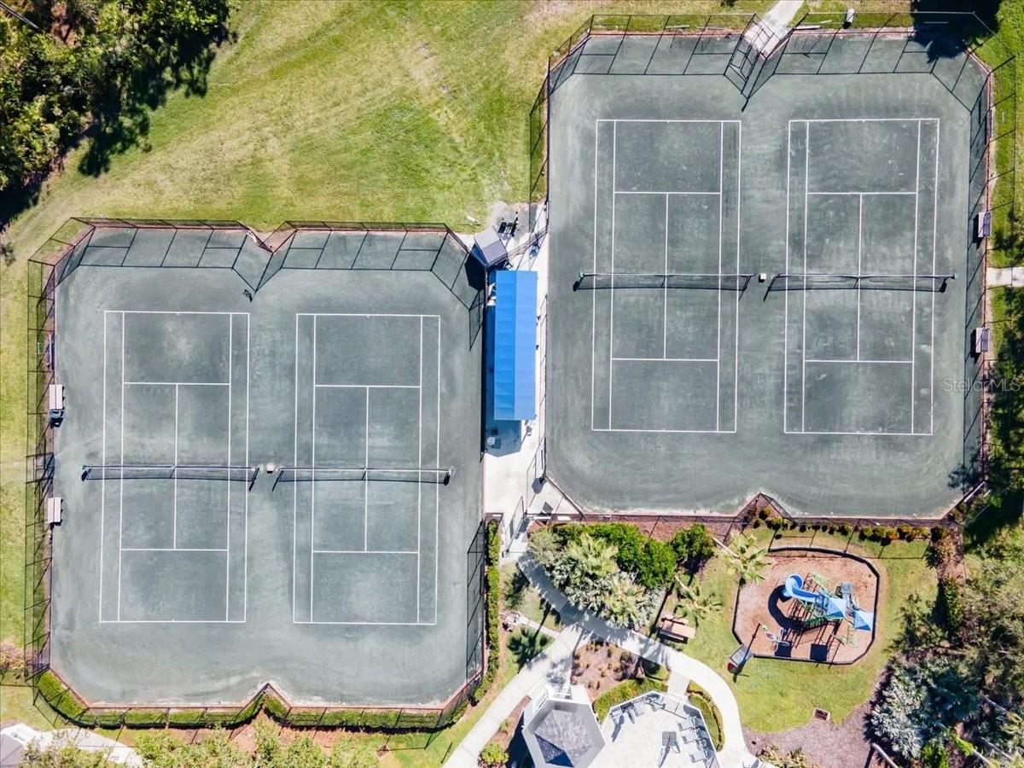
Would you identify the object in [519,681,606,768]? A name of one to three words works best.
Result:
building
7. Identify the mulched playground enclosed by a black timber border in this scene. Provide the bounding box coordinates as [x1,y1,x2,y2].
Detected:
[733,548,880,666]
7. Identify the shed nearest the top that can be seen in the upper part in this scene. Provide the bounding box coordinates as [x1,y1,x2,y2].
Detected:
[474,227,508,269]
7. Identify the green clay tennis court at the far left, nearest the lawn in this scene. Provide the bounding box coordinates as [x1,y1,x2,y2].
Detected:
[51,228,271,707]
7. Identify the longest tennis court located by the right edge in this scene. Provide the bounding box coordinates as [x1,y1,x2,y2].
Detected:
[760,34,989,518]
